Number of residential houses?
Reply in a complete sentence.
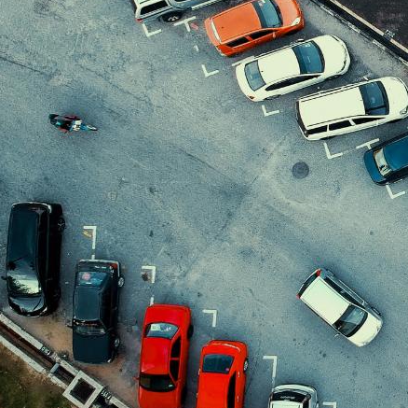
I count no residential houses.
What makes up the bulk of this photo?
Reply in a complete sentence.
The bulk of the photo consists of paved ground.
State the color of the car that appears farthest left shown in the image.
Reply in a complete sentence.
From above, the car that appears farthest left appears black.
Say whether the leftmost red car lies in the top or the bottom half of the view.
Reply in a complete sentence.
Seen from above, the leftmost red car lies in the bottom half of the view.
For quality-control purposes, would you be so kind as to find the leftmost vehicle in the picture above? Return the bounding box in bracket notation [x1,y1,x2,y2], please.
[1,202,67,318]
